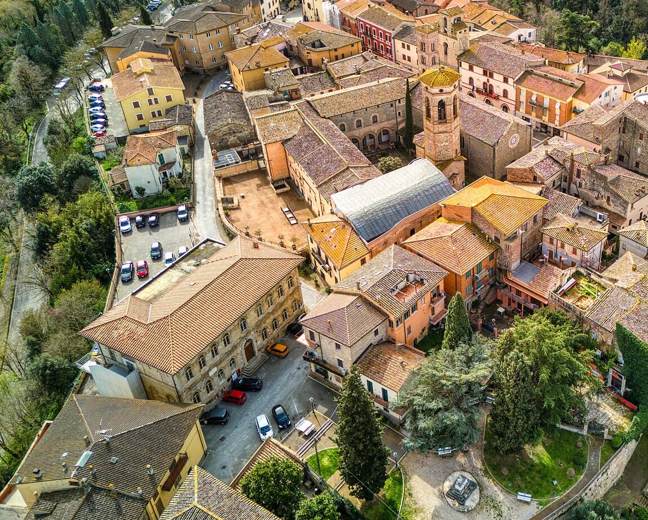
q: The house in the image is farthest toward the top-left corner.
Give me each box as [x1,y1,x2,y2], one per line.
[100,25,168,75]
